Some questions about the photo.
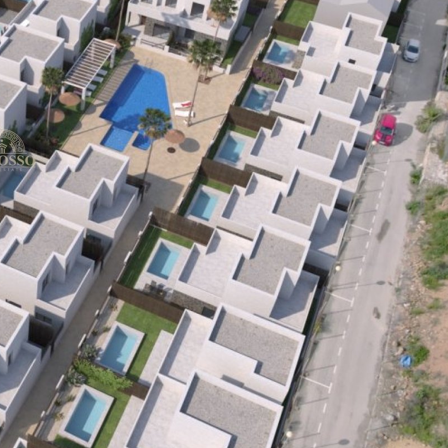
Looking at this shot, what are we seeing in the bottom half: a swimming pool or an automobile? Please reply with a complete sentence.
The feature located in the bottom half is a swimming pool.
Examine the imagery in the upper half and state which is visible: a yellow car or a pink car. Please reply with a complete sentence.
You can see a pink car in the upper half.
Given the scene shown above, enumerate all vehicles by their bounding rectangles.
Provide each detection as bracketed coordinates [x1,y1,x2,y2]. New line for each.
[401,36,422,62]
[376,113,396,144]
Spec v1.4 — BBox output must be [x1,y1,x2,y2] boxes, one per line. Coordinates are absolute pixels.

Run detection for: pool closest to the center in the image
[185,186,225,226]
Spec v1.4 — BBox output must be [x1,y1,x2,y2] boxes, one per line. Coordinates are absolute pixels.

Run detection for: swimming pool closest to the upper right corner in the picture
[262,45,290,65]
